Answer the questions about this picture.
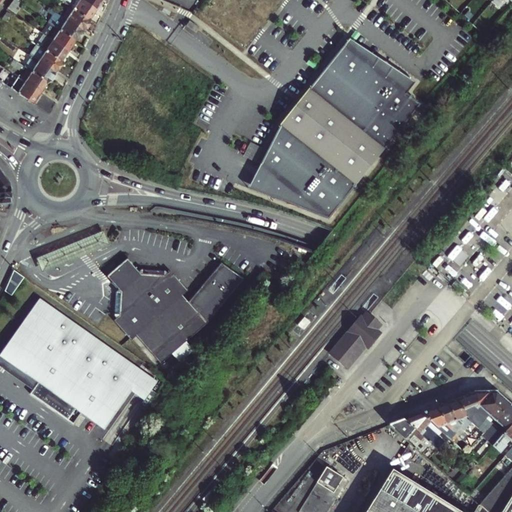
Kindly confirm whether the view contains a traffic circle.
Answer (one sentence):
Yes, a traffic circle appears in the view.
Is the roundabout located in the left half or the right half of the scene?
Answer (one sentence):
The roundabout is on the left side of the image.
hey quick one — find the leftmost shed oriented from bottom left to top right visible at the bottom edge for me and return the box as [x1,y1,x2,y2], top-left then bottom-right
[278,474,316,512]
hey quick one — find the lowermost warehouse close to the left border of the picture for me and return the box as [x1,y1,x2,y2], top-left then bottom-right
[0,298,157,430]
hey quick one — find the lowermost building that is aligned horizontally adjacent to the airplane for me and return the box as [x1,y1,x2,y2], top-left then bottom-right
[366,470,460,512]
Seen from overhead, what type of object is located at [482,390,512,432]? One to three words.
house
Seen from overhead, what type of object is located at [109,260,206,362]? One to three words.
building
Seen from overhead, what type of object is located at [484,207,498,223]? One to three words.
camper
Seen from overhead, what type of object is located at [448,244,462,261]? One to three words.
camper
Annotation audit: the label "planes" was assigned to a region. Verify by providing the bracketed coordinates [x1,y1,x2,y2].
[390,452,413,470]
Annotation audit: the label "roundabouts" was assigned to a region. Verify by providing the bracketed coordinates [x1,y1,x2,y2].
[18,140,100,221]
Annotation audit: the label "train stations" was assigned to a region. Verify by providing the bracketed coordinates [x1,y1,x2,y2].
[328,308,383,370]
